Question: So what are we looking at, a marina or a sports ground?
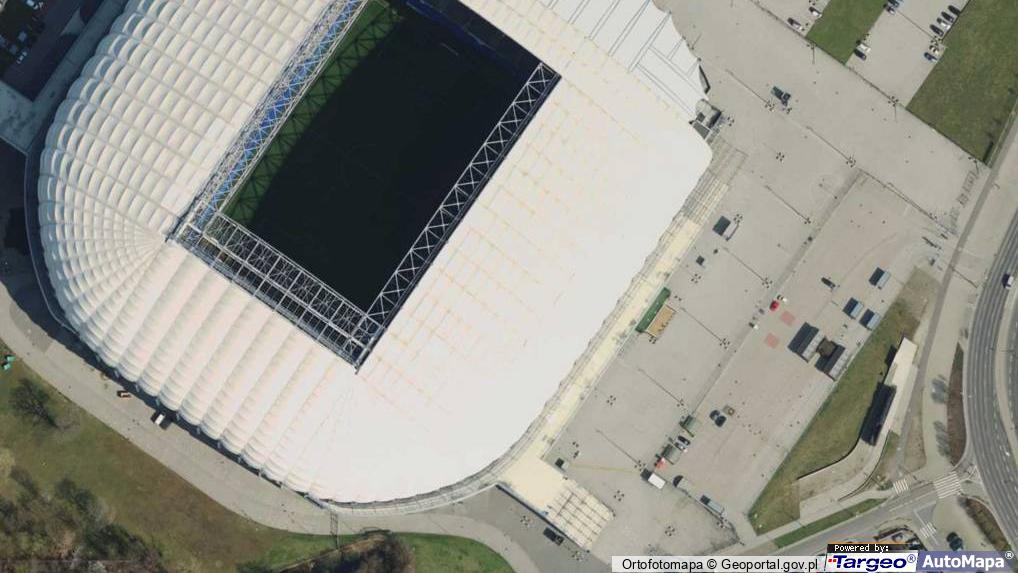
sports ground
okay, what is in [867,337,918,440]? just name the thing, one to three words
building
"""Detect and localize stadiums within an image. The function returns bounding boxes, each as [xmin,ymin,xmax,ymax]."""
[34,0,721,502]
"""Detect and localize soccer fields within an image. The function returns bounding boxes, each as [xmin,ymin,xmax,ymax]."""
[216,0,536,326]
